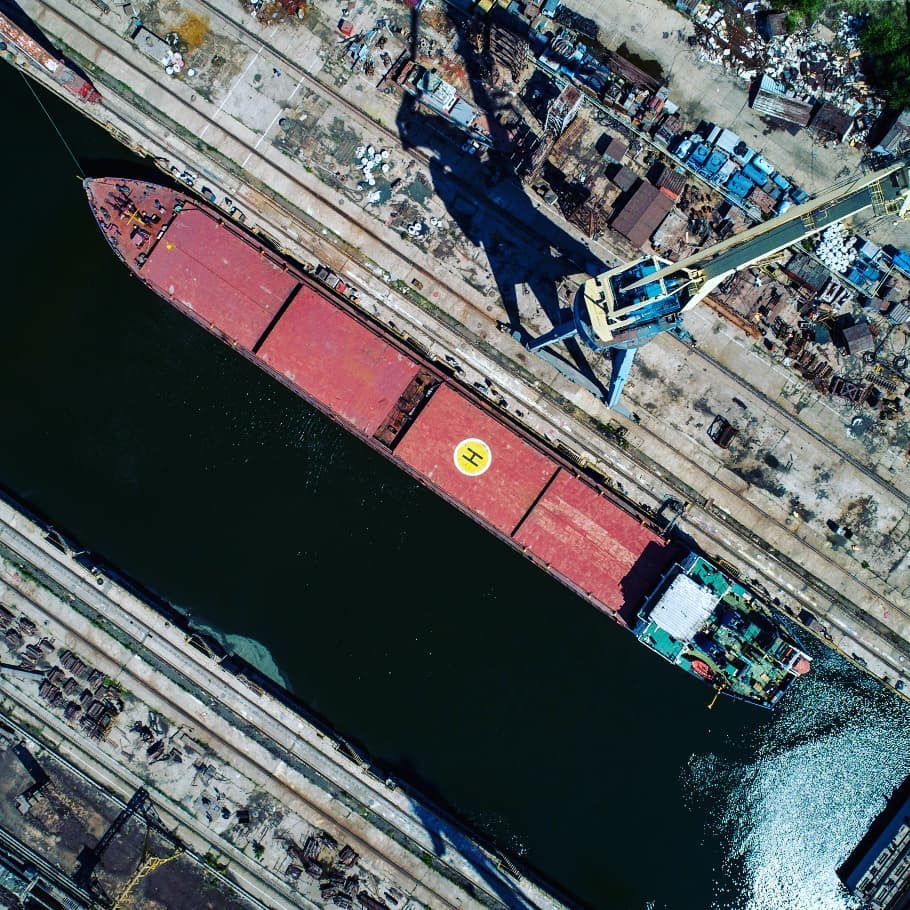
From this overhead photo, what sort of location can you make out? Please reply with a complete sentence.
The picture captures a port.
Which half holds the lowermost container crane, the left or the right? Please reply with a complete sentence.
It is on the left.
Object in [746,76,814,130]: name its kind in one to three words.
shed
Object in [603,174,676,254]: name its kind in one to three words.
shed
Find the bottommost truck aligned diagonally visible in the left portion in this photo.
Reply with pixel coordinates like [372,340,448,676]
[314,266,346,294]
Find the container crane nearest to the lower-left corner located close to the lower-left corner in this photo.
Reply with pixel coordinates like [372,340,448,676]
[89,824,187,910]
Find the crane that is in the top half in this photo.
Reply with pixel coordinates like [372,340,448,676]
[496,162,910,430]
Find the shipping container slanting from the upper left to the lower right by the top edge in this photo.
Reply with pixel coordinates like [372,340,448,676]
[135,29,173,67]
